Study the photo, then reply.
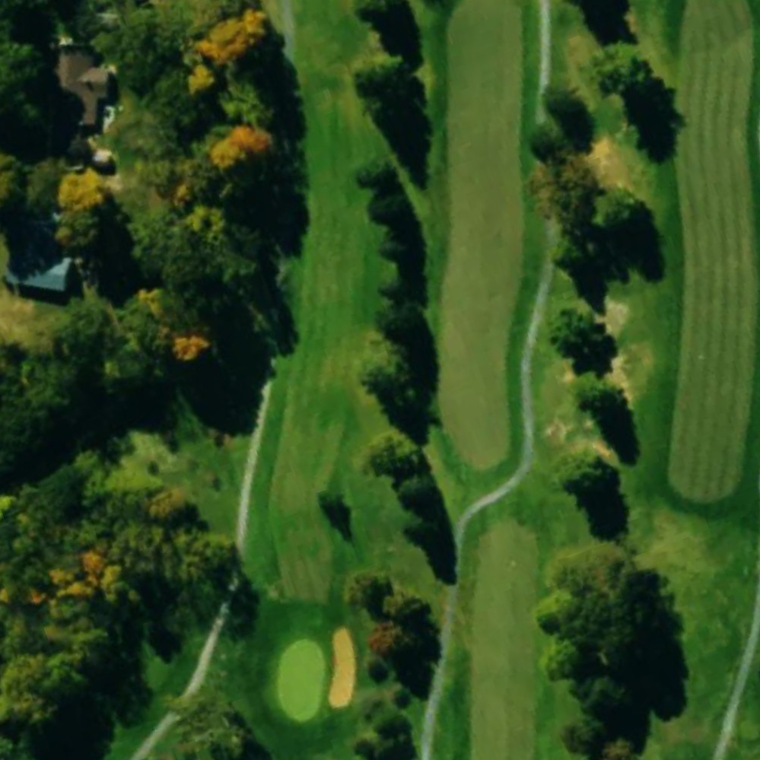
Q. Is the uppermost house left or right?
left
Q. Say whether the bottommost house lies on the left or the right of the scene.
left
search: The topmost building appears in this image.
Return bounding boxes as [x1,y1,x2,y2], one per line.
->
[58,49,113,126]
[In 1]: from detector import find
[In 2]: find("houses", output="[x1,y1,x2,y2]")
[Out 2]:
[58,49,113,126]
[6,218,75,295]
